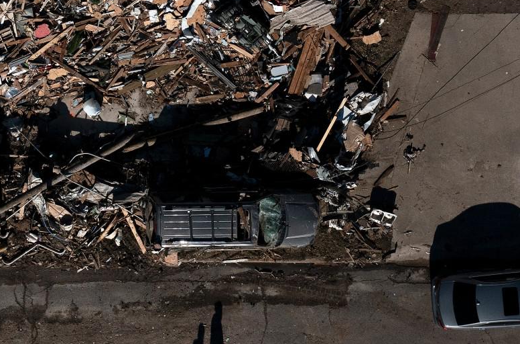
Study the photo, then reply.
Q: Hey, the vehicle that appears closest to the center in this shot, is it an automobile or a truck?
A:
automobile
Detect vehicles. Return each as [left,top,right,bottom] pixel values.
[427,260,520,326]
[155,185,318,251]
